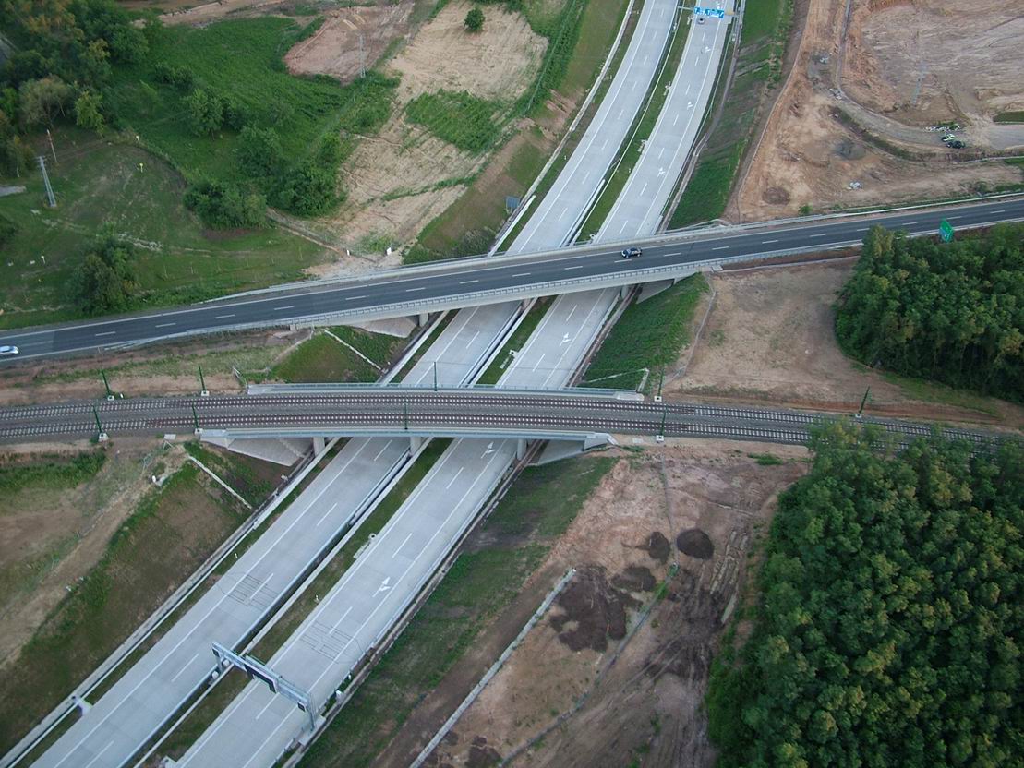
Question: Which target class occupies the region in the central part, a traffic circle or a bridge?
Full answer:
Looking in the central part, you will find a bridge.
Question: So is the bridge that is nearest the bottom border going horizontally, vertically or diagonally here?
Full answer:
Seen from above, the bridge that is nearest the bottom border lies horizontally.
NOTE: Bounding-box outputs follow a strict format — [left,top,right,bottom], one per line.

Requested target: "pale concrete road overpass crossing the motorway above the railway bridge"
[292,226,736,337]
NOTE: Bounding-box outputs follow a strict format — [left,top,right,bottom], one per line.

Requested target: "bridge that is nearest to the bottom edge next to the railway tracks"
[173,383,667,466]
